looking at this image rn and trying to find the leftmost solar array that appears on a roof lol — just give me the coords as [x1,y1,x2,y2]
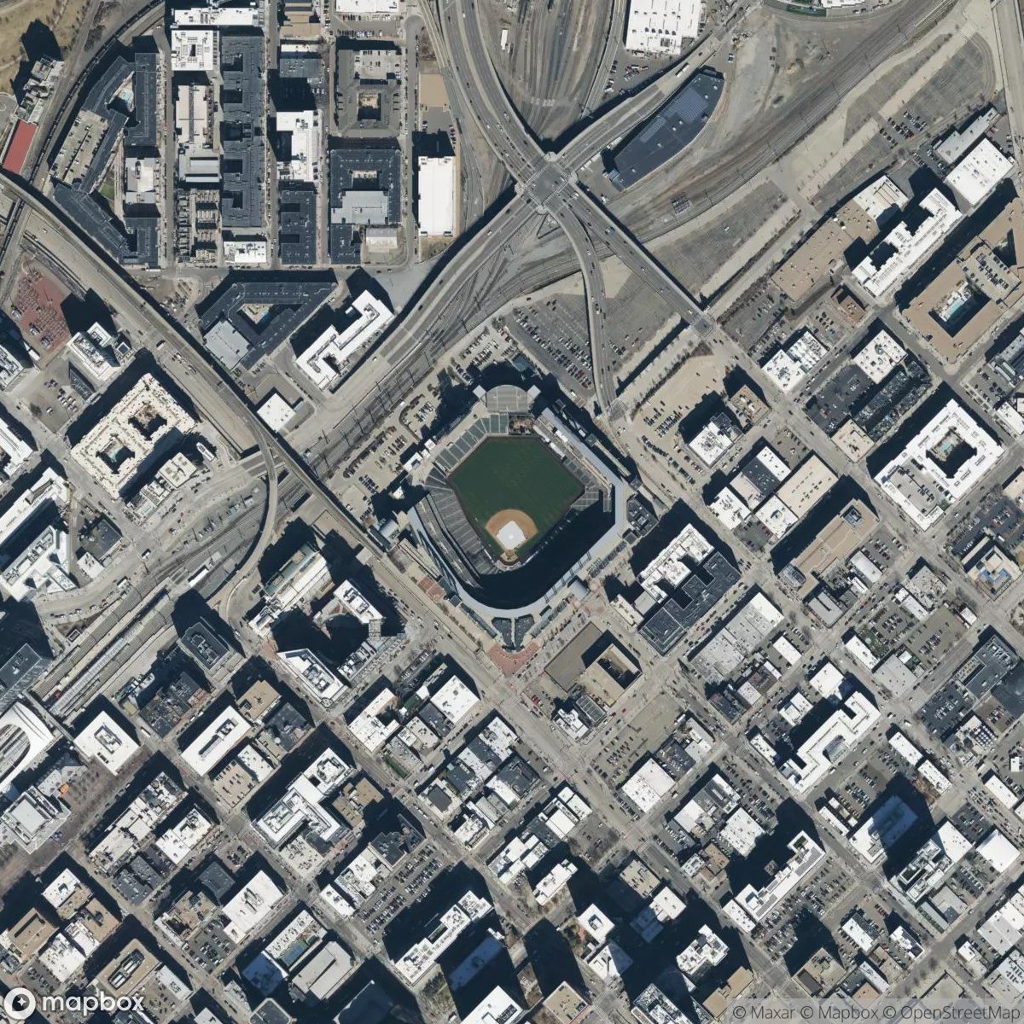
[641,116,665,141]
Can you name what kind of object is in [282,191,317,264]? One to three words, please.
building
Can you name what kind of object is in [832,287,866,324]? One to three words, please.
house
